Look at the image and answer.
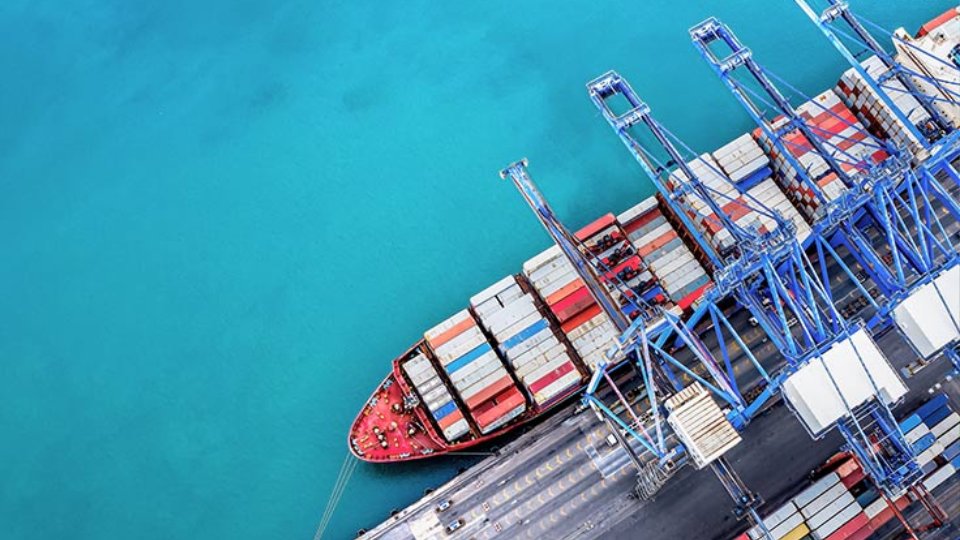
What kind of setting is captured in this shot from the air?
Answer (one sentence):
The picture captures a port.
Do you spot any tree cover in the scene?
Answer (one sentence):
No, the picture contains no tree cover.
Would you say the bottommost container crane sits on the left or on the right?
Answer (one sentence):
You can find the bottommost container crane on the right side of the picture.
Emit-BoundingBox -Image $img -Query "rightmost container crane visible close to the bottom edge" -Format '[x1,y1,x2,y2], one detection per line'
[823,448,953,540]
